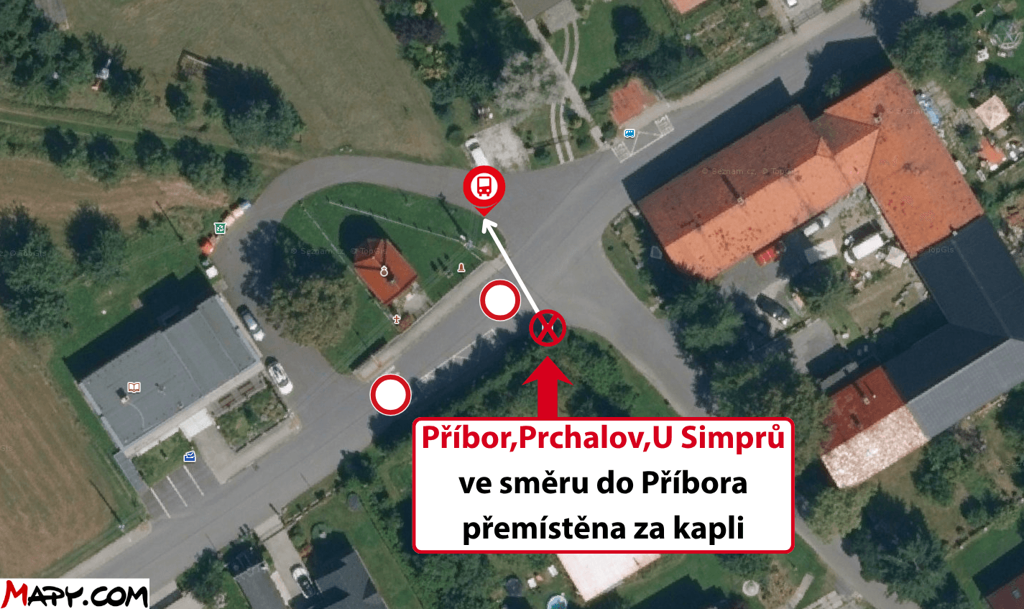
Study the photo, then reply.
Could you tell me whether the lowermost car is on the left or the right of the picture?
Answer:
left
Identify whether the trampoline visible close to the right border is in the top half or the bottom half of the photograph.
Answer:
top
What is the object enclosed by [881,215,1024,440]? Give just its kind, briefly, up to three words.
barn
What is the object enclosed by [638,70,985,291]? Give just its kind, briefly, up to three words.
house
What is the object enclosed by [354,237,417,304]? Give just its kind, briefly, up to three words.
building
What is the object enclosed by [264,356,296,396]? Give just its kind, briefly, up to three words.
car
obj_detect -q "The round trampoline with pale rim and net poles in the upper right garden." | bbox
[996,19,1024,48]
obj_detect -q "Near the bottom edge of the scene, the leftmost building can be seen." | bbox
[234,561,286,609]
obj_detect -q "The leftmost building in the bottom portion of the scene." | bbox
[75,294,259,455]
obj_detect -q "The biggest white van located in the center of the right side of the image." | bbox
[842,229,889,264]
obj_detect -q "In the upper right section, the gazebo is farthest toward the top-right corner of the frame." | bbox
[975,95,1011,130]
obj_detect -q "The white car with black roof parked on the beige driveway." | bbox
[289,561,320,601]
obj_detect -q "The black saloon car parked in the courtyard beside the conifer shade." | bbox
[754,293,794,326]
